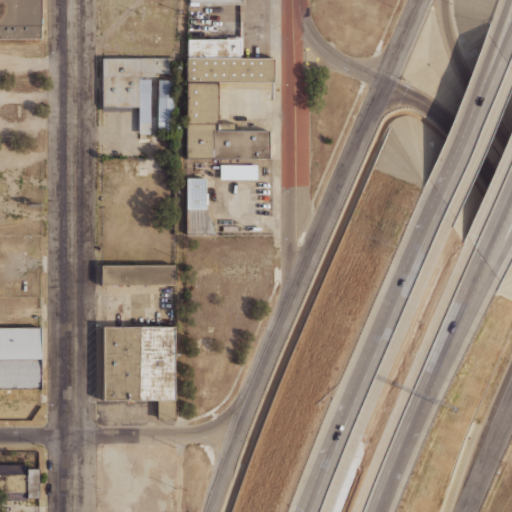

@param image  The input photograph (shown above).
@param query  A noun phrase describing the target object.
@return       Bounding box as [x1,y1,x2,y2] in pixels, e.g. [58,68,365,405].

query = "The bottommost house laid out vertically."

[28,470,40,498]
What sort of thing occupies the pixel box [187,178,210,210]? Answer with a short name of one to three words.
shed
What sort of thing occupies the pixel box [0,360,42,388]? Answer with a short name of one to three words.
building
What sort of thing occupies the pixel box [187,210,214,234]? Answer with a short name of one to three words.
shed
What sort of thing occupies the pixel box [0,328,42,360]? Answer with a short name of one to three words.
building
